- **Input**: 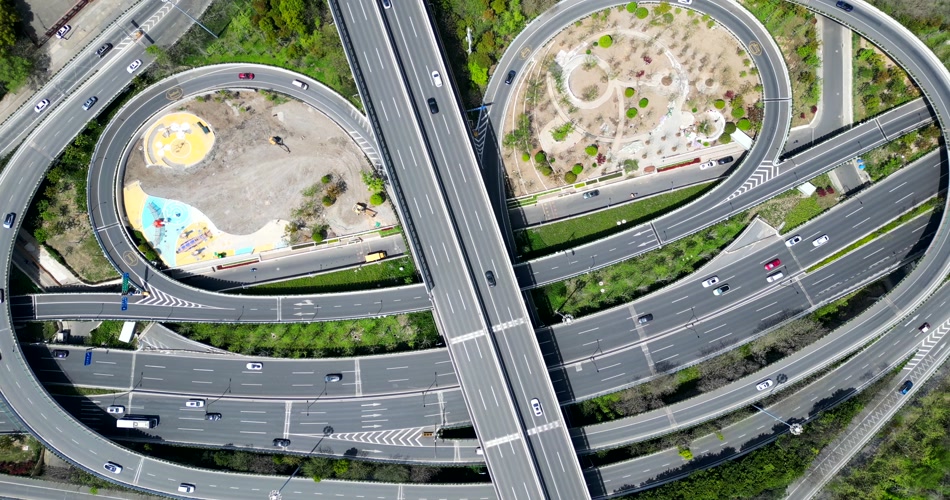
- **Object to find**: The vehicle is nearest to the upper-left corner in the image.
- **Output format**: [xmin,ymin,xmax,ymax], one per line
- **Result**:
[57,24,71,39]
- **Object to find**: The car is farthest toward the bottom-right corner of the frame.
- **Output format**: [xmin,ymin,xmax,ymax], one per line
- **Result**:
[898,380,912,394]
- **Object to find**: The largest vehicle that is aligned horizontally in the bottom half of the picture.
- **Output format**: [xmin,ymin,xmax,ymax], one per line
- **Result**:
[115,416,162,429]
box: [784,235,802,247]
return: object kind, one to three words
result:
vehicle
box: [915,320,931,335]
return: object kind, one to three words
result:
car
